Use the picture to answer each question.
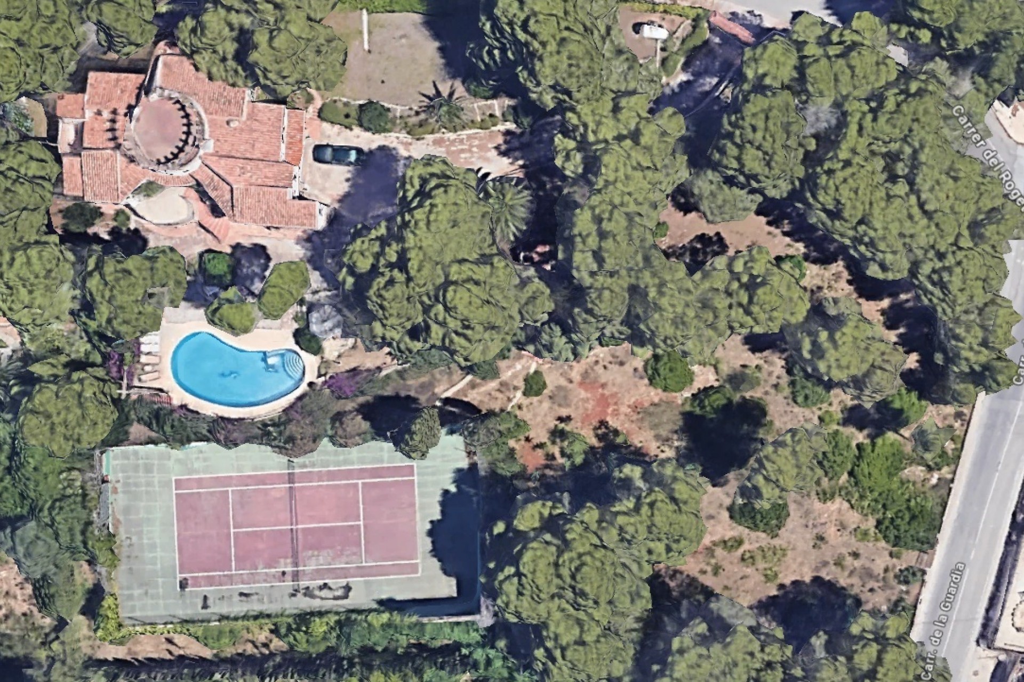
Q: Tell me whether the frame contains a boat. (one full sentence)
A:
No, no boat can be seen from above.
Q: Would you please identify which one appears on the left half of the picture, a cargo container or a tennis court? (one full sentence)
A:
Looking on the left half of the picture, you will find a tennis court.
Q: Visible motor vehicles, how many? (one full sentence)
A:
I count just 1 motor vehicle.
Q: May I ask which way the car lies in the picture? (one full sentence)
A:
The car is oriented from left to right.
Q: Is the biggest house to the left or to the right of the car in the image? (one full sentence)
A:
In the image, the biggest house sits on the left side of the car.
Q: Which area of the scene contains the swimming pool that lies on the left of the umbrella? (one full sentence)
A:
Look in the left portion of the view to spot the swimming pool that lies on the left of the umbrella.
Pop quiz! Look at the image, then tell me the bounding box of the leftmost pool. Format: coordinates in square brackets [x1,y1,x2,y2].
[133,322,318,418]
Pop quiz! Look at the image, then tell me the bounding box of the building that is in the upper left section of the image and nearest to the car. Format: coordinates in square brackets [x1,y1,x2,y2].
[57,42,326,232]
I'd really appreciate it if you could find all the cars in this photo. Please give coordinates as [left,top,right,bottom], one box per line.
[314,142,364,166]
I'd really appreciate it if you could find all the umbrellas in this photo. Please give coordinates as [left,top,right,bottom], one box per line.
[309,303,342,337]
